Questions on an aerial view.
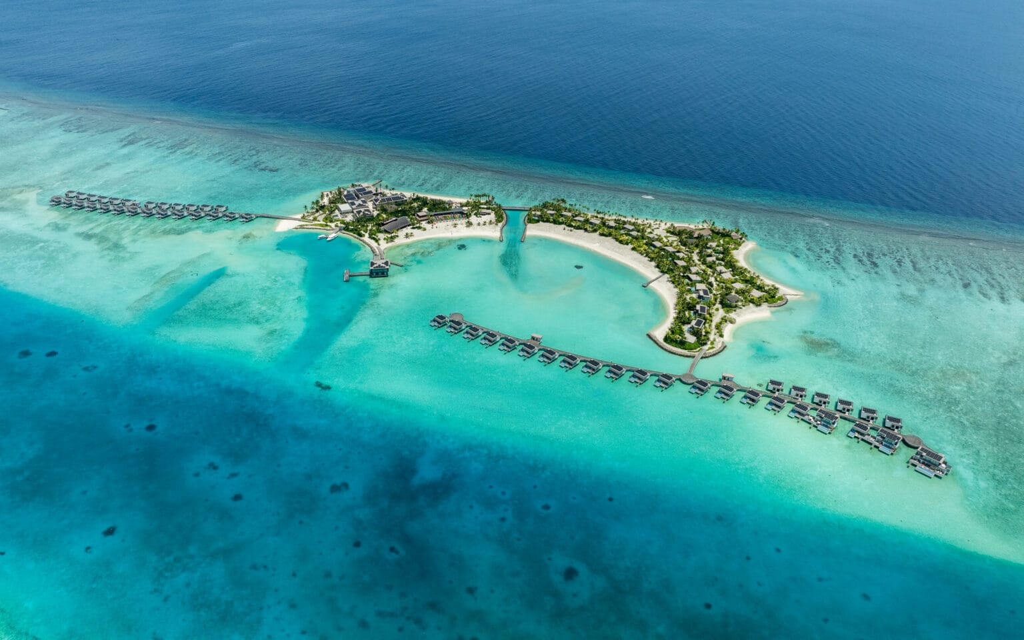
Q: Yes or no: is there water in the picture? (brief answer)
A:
Yes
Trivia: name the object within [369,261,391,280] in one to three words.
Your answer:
building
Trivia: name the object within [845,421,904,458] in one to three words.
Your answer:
house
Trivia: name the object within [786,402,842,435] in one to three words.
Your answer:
house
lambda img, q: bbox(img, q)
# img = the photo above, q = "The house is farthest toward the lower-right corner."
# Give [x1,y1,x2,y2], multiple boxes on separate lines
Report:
[906,446,953,477]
